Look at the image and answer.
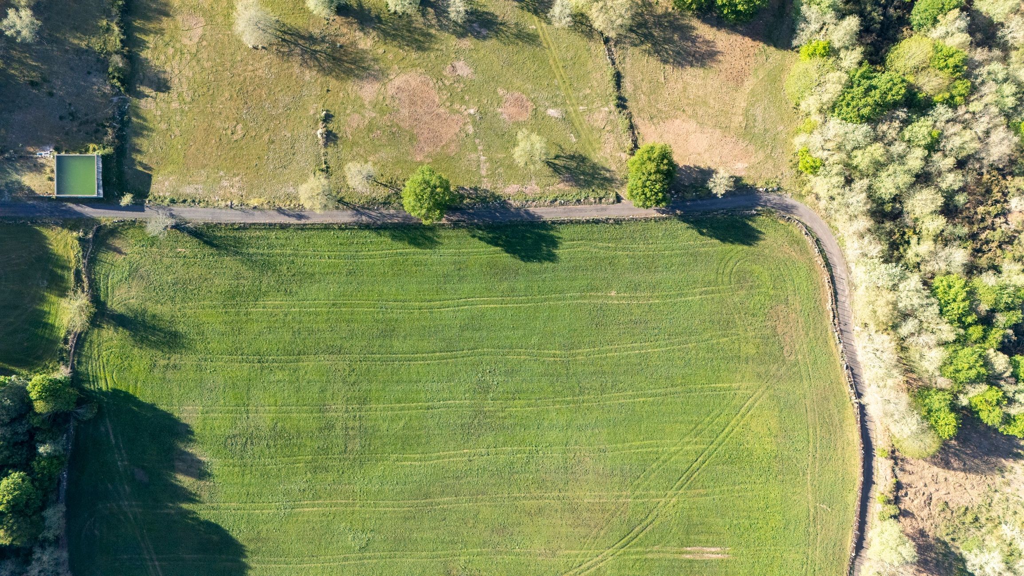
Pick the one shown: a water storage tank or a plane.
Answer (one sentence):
The one in the frame is a water storage tank.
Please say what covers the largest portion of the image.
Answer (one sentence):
The bulk of the photo consists of grass.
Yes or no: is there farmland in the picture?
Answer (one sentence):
Yes, farmland can be seen from above here.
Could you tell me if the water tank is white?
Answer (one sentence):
No, the color of the water tank is green.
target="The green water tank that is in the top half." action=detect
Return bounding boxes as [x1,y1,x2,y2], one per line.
[54,154,105,199]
